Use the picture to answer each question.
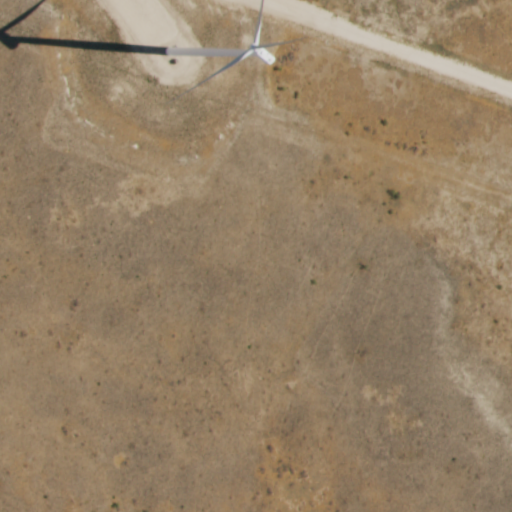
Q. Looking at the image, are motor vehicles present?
No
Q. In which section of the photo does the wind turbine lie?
top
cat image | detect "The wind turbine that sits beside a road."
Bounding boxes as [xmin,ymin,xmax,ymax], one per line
[164,0,306,103]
